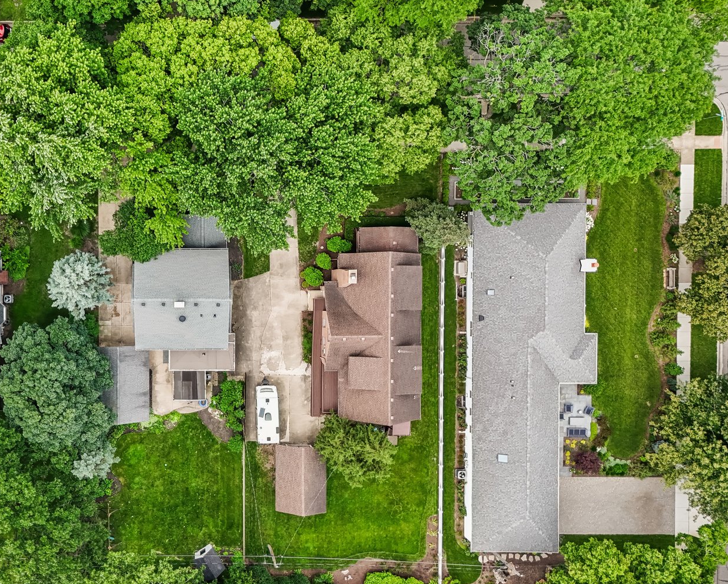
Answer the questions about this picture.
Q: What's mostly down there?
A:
trees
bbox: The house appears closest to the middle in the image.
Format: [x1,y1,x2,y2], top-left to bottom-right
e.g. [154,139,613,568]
[307,224,429,435]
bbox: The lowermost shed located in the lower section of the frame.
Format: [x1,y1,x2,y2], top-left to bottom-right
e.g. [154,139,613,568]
[196,544,225,582]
